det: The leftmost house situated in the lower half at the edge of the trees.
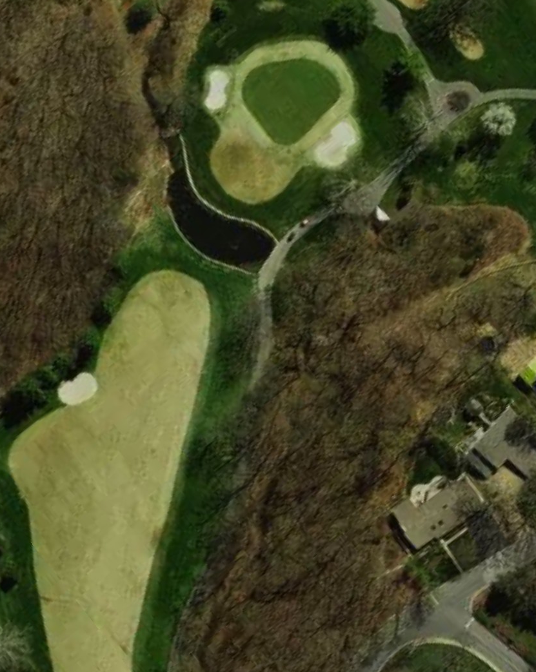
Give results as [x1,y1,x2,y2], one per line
[392,474,490,553]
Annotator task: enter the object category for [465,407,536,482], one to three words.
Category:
house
